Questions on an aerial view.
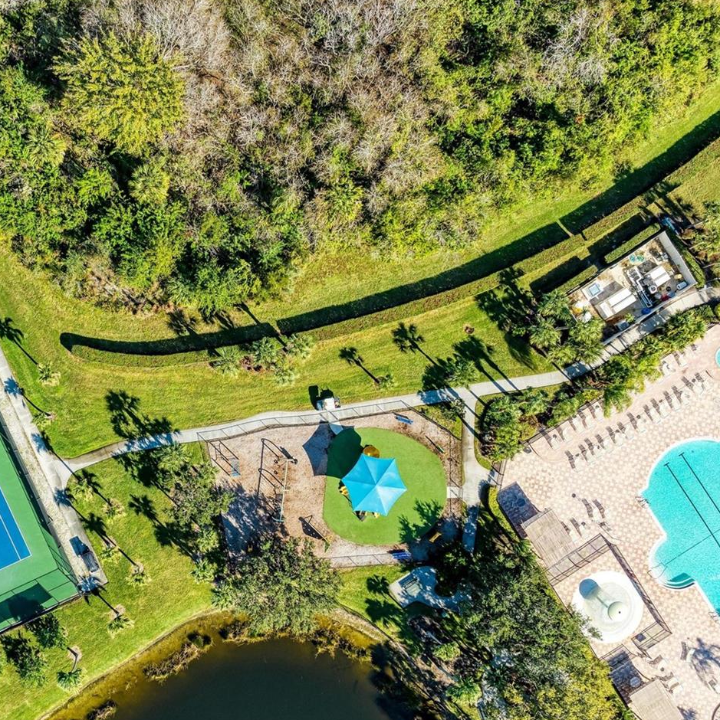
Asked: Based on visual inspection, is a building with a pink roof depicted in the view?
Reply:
No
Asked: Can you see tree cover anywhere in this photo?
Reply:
Yes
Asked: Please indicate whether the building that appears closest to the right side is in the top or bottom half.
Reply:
bottom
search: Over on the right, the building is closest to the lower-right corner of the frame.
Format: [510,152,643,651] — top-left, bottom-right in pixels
[623,674,683,720]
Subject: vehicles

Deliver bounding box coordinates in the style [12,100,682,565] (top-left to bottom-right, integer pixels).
[315,399,339,411]
[80,550,97,574]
